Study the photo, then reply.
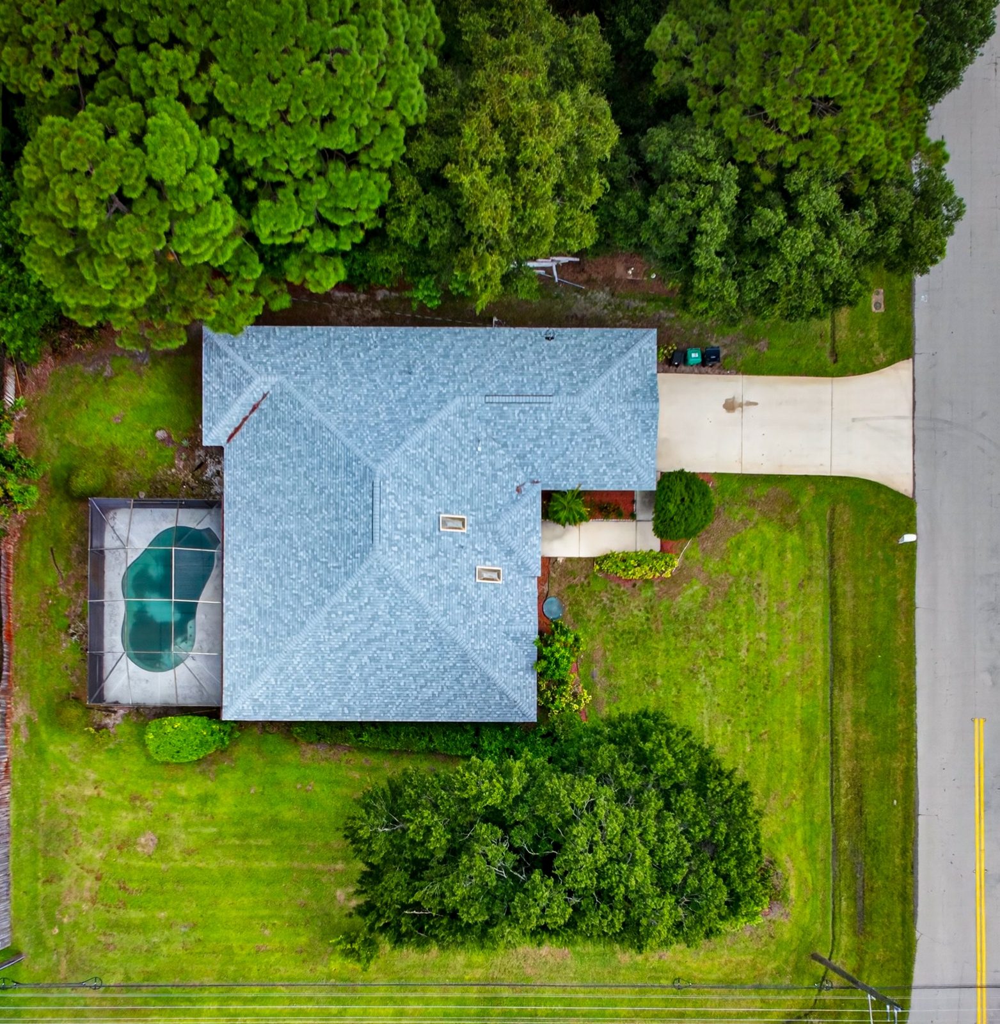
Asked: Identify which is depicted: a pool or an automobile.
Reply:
pool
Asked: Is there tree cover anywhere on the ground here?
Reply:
Yes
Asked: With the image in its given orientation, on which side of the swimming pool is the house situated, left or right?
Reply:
to the right of it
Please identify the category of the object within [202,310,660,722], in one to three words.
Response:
house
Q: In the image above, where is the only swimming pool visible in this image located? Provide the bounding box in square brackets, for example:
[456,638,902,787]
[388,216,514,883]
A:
[119,523,220,674]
